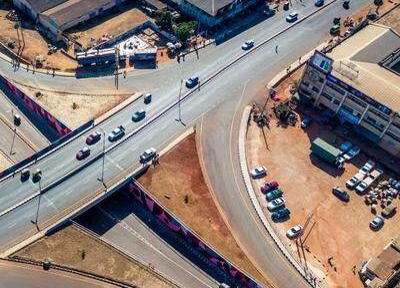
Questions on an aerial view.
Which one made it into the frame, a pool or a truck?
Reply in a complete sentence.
I can see a truck in this picture.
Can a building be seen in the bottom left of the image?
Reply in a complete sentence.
No, there is no building in the bottom left of the image.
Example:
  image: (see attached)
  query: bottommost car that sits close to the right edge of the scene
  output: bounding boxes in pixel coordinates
[369,215,385,229]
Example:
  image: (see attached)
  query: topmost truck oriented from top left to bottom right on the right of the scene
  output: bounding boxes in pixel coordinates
[312,132,345,164]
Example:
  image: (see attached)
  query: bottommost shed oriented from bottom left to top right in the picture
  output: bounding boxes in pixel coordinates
[360,242,400,284]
